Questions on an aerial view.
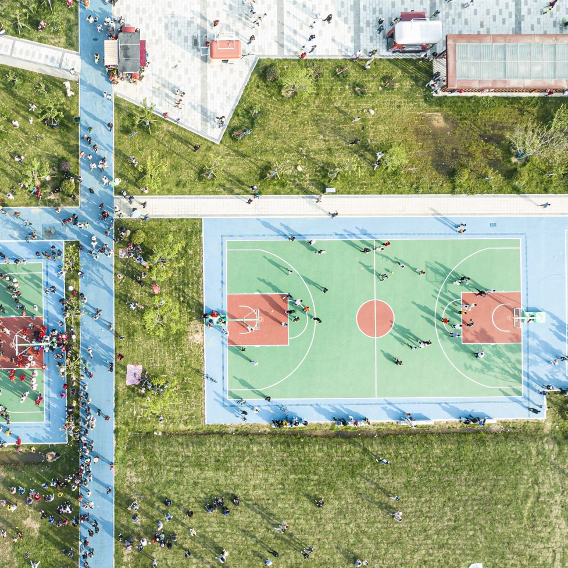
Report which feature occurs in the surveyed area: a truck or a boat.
truck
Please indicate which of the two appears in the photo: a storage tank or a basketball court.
basketball court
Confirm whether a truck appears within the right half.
Yes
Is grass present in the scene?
Yes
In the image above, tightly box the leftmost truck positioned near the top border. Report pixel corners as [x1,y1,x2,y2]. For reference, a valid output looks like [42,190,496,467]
[104,27,146,88]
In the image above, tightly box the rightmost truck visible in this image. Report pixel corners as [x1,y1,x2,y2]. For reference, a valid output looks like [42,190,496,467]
[375,14,440,53]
